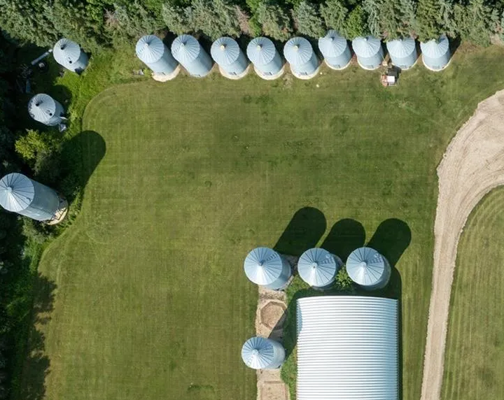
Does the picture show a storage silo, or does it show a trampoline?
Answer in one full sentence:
Looking from above, you can make out a storage silo.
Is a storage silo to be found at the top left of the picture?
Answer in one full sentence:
Yes, a storage silo appears at the top left of the picture.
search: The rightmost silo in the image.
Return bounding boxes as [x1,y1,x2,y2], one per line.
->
[420,28,449,70]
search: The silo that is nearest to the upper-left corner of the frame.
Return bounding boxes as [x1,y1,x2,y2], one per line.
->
[54,37,92,73]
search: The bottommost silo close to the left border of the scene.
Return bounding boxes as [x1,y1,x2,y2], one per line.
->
[0,173,71,225]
